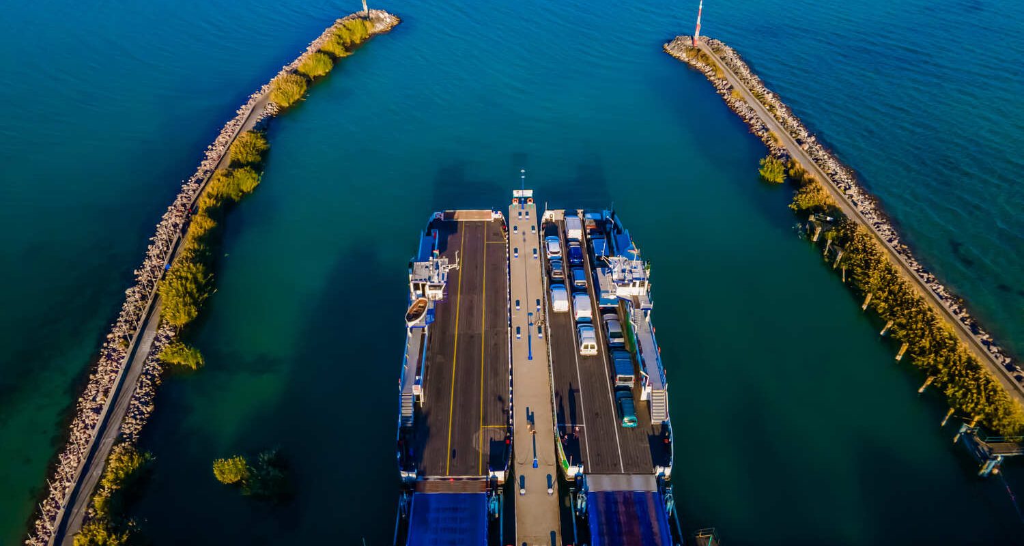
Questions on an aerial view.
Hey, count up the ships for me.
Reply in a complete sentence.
The number of ships here is 2.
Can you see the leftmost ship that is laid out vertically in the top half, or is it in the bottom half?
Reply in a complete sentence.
Seen from above, the leftmost ship that is laid out vertically lies in the bottom half of the view.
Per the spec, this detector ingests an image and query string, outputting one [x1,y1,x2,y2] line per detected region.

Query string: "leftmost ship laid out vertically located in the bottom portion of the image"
[393,212,511,508]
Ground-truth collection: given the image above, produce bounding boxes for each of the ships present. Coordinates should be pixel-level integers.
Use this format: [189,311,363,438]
[393,212,511,508]
[541,211,676,506]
